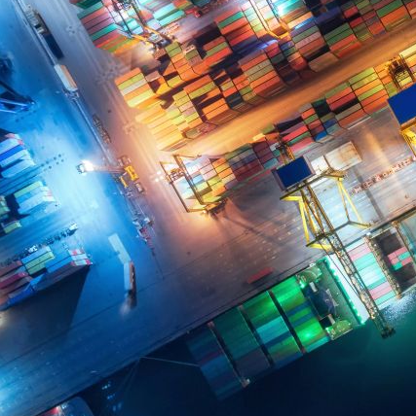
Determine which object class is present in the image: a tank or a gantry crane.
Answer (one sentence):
I can see a gantry crane in this picture.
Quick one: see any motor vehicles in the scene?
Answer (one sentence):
Yes, there's a motor vehicle down there.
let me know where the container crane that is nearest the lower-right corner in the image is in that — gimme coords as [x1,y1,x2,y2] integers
[267,136,399,340]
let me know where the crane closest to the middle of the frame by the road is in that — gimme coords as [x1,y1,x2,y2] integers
[156,150,226,215]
